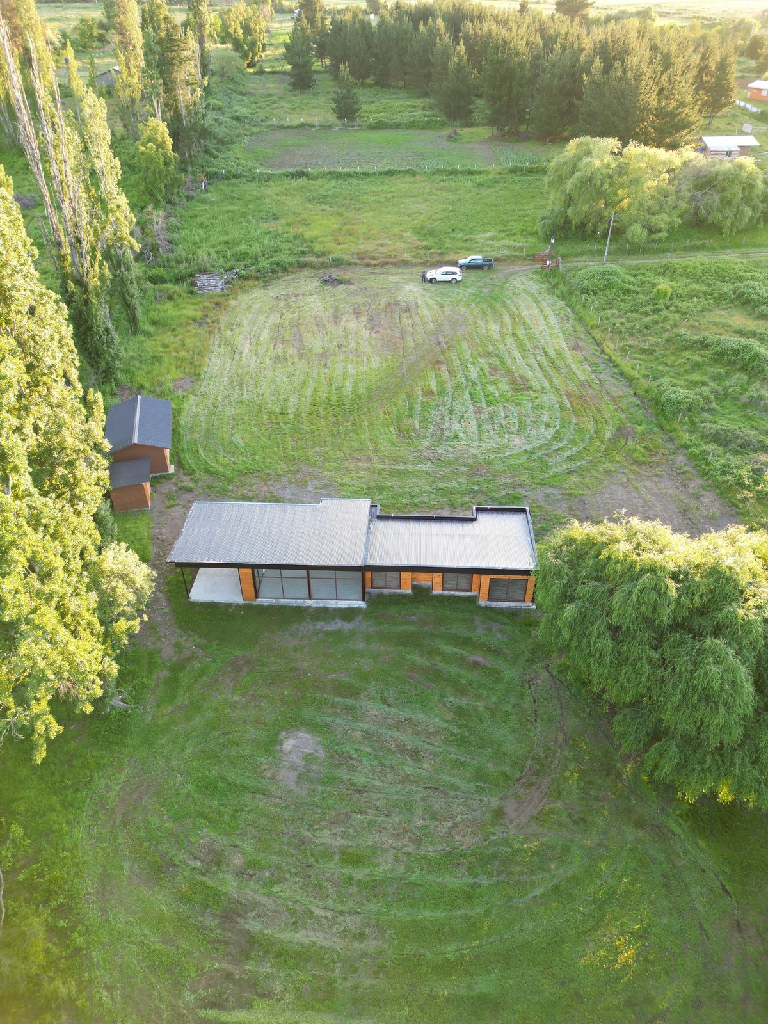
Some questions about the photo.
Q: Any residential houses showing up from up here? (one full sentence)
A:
Yes, I can see a residential house in this picture.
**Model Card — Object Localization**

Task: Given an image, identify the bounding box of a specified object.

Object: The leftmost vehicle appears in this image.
[427,264,464,281]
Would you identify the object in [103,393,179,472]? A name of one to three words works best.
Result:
shed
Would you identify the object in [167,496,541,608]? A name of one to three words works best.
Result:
house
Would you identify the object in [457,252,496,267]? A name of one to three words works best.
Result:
vehicle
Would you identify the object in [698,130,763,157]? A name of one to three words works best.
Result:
building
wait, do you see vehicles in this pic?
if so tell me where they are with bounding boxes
[457,252,496,267]
[427,264,464,281]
